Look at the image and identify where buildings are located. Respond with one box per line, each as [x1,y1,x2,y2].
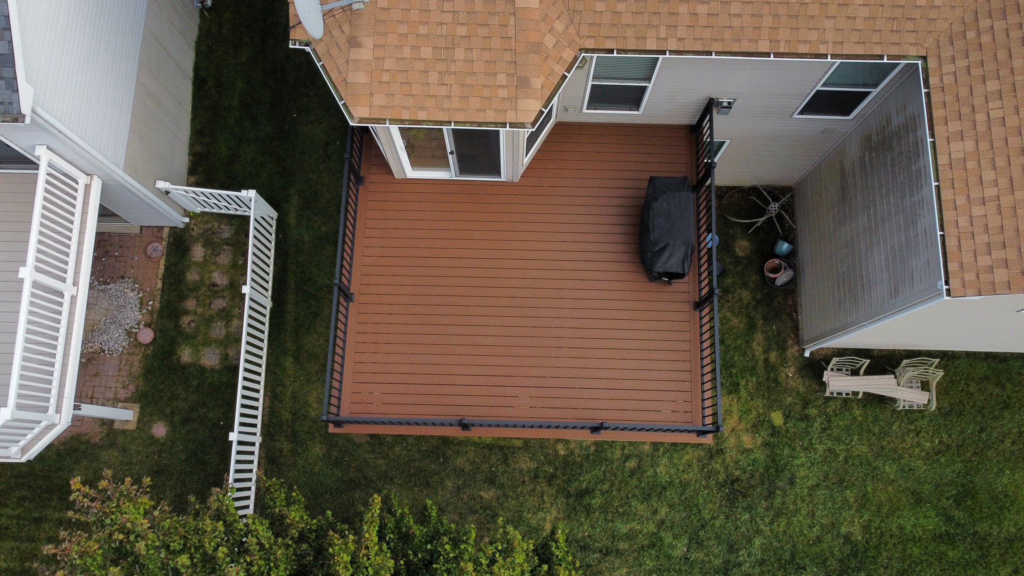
[0,0,199,232]
[286,0,1024,362]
